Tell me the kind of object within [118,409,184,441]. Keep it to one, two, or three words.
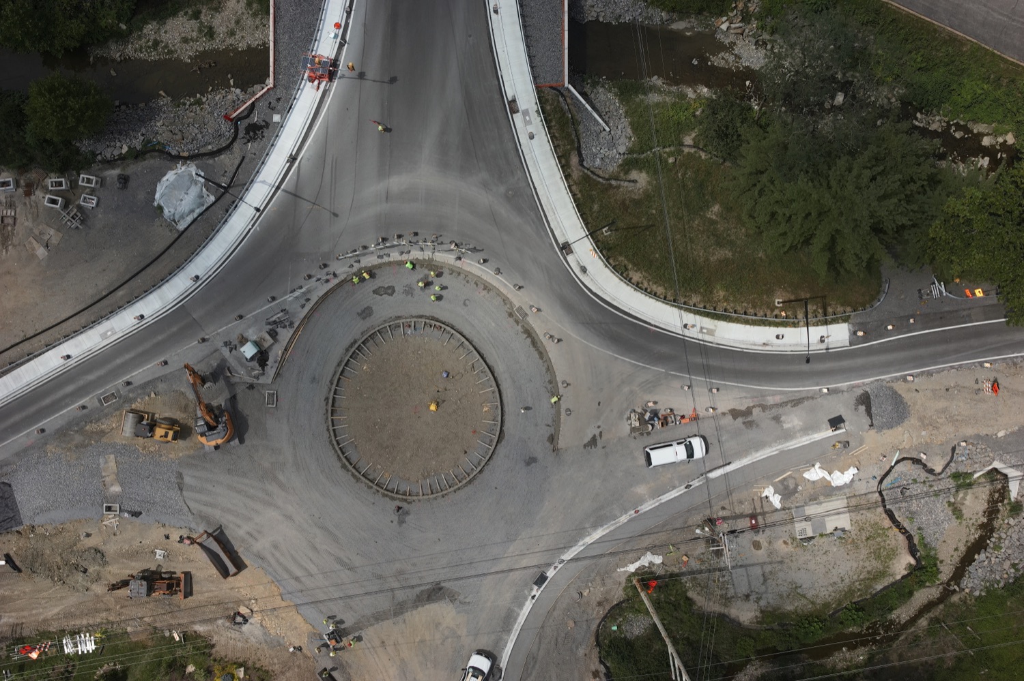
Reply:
work vehicle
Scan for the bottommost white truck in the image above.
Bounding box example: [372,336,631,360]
[462,650,491,681]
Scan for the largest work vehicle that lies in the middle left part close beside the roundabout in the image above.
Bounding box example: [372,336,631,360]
[180,364,238,451]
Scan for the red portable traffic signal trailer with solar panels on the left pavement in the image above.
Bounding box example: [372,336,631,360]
[297,55,358,92]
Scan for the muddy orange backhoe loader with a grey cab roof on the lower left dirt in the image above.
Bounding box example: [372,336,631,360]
[94,572,189,604]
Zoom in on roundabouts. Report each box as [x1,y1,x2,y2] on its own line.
[268,251,568,557]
